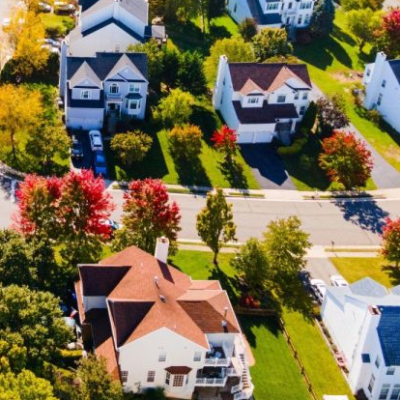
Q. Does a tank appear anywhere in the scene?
No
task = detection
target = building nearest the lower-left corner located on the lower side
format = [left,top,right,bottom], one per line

[59,241,248,400]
